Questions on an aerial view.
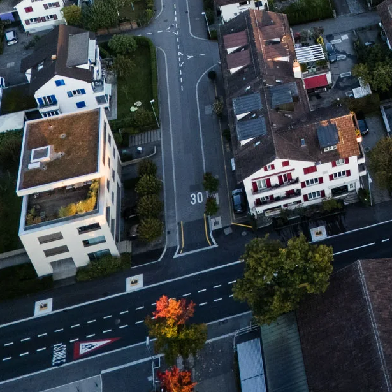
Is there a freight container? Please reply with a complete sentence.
No, the scene contains no freight container.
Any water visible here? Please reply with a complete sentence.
No, there's no water in this view.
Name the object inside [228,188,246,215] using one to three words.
car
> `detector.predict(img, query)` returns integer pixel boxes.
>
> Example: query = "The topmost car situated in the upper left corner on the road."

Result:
[4,29,18,47]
